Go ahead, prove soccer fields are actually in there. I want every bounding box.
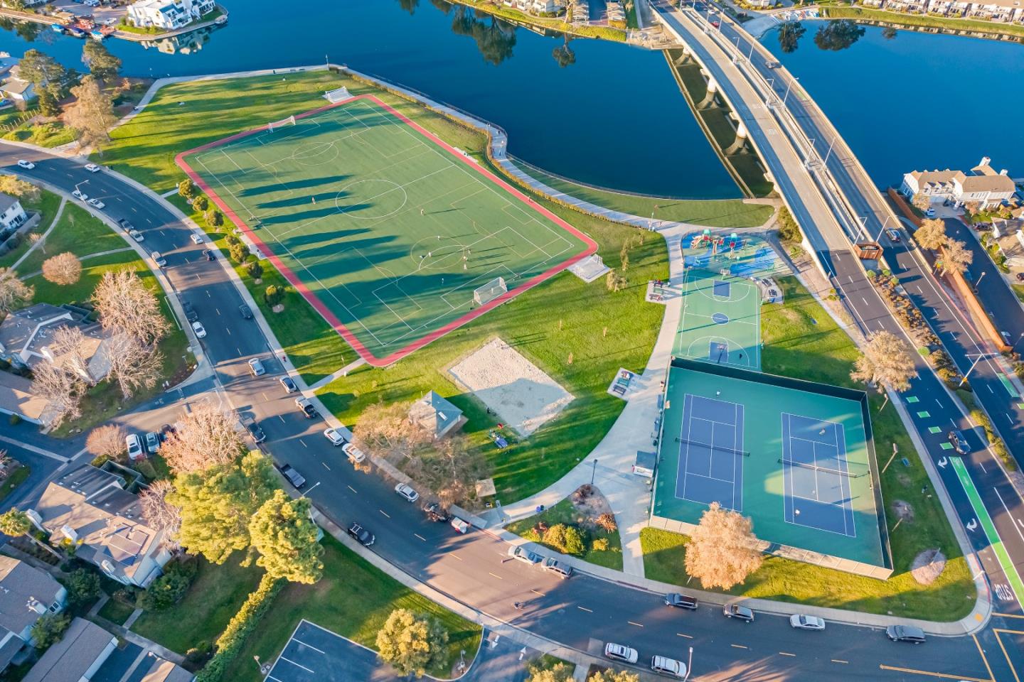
[175,94,597,368]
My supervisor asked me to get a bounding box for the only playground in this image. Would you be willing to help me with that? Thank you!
[681,232,794,279]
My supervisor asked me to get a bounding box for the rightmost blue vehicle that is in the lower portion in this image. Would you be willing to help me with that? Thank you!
[945,430,972,455]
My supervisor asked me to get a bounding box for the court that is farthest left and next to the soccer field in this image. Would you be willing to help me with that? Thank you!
[443,336,575,439]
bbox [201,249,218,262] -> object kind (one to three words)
vehicle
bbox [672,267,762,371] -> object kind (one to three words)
basketball court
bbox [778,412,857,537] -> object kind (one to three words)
tennis court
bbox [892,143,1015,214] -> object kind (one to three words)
house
